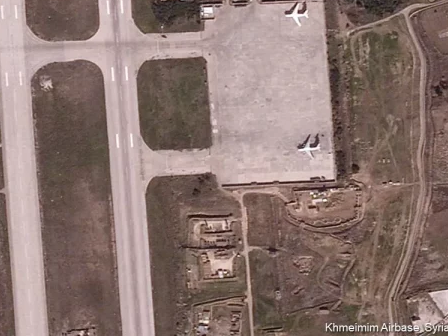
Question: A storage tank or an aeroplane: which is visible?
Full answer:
There is an aeroplane in the scene.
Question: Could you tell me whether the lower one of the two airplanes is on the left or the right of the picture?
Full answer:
You can find the lower one of the two airplanes on the right side of the picture.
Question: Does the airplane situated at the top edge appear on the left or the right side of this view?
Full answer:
The airplane situated at the top edge sits on the right side.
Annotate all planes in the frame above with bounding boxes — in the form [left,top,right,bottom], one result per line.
[285,4,308,28]
[297,137,321,161]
